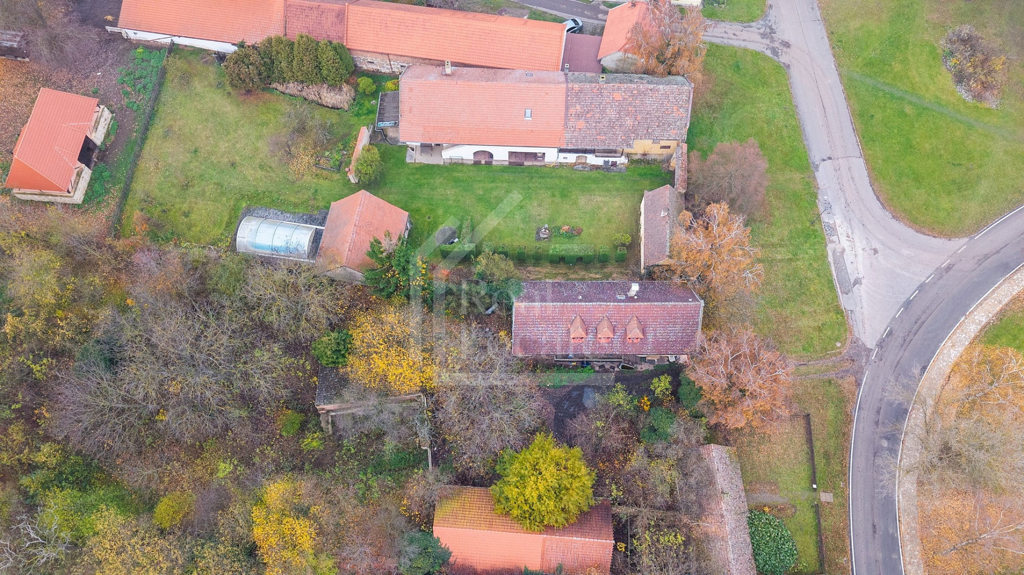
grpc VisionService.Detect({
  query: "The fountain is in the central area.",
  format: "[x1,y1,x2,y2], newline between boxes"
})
[534,221,553,242]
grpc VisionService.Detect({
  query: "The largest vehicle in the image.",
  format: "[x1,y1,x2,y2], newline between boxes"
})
[562,13,584,32]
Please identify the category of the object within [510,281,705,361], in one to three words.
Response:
house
